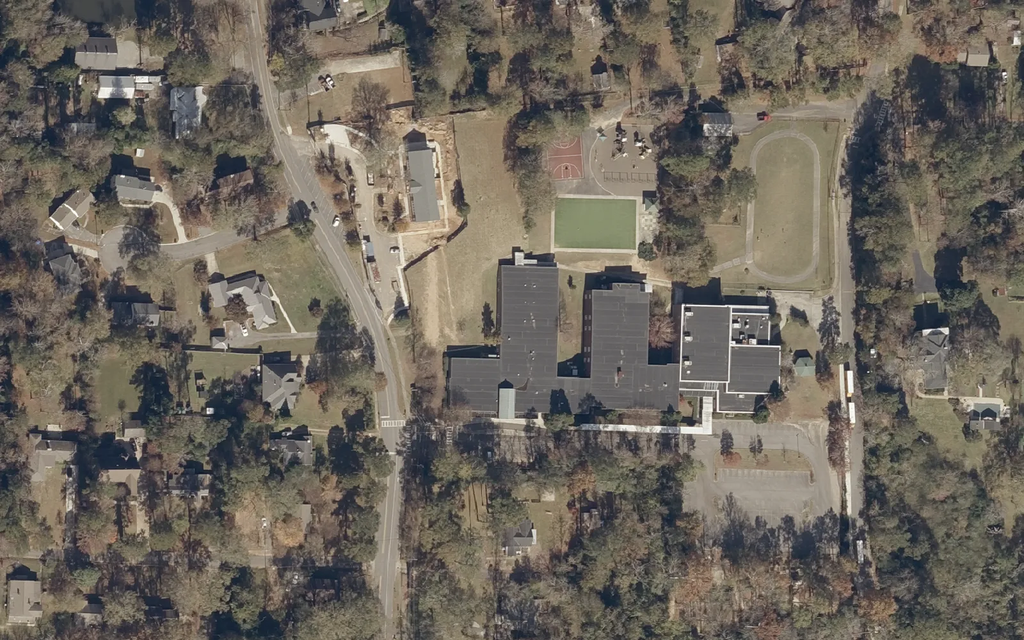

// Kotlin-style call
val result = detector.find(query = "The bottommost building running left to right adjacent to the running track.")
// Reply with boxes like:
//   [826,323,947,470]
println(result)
[447,266,781,419]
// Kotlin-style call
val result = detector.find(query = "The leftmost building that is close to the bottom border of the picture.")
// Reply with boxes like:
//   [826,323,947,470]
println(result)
[8,580,42,623]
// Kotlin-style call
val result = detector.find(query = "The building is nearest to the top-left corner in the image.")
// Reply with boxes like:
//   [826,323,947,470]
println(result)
[74,38,119,71]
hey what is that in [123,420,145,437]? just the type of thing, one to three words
shed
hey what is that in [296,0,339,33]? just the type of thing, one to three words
house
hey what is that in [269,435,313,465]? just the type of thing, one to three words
house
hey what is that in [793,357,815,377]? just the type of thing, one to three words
building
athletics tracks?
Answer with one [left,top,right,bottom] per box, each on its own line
[748,130,820,283]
